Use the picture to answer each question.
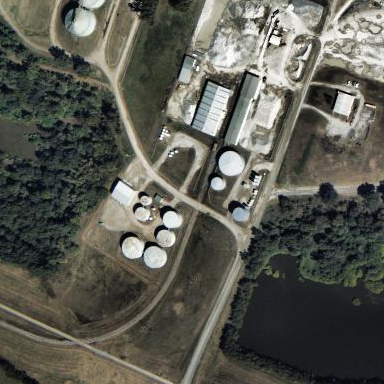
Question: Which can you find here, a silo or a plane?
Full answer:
Looking from above, you can make out a silo.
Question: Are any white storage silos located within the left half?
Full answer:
Yes, a white storage silo shows up within the left half.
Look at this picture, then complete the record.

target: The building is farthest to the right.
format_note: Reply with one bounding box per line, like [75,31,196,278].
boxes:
[333,92,355,116]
